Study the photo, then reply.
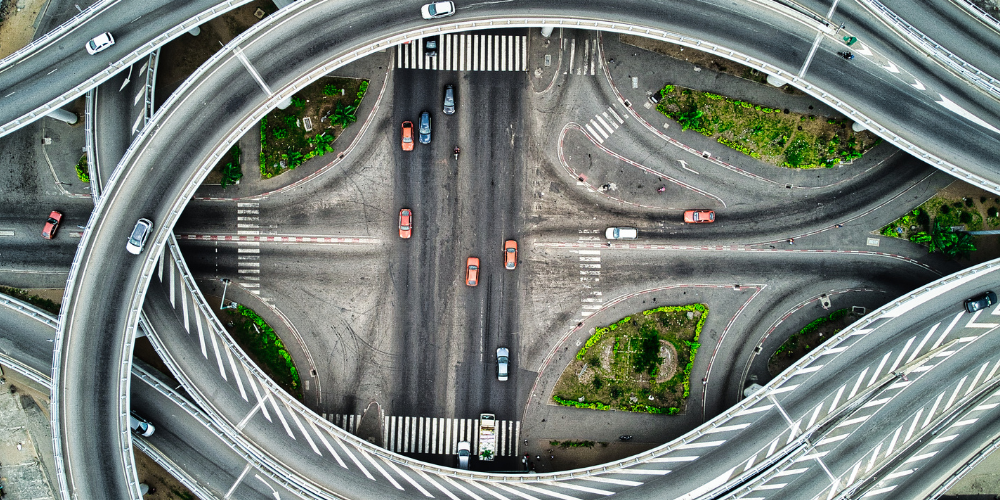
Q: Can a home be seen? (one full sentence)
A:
No, the photo shows no home.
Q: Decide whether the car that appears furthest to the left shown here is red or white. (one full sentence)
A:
The color of the car that appears furthest to the left is red.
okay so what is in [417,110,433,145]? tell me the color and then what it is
blue car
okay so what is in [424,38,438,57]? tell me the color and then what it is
black car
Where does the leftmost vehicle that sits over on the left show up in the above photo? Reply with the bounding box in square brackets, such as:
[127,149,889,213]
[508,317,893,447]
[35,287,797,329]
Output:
[43,210,63,240]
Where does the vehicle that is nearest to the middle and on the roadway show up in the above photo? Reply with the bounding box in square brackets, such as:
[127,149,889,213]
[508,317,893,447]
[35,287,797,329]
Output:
[504,240,519,270]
